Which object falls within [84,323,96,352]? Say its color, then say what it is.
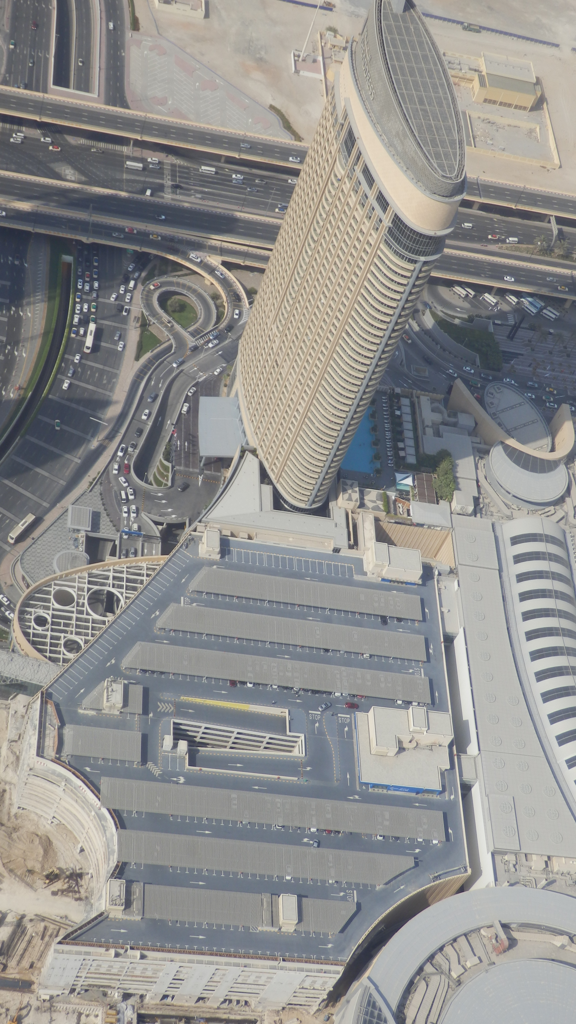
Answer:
white vehicle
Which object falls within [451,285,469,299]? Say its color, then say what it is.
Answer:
white vehicle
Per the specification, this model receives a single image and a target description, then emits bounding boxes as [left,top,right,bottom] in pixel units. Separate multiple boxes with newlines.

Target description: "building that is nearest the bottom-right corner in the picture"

[320,887,576,1024]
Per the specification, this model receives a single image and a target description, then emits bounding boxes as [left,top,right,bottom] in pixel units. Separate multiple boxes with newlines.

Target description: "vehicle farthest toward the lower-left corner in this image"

[5,999,28,1024]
